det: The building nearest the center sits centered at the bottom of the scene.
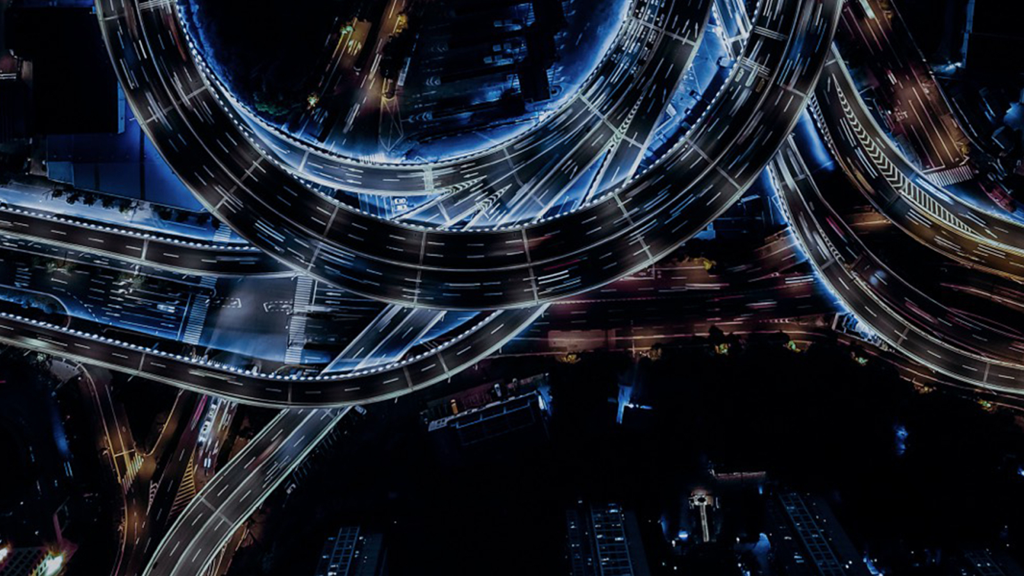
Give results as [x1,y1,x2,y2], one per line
[458,399,543,449]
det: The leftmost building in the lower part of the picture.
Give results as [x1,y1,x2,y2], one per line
[313,527,381,576]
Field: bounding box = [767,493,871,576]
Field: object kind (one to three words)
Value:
building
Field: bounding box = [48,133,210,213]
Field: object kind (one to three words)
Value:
building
